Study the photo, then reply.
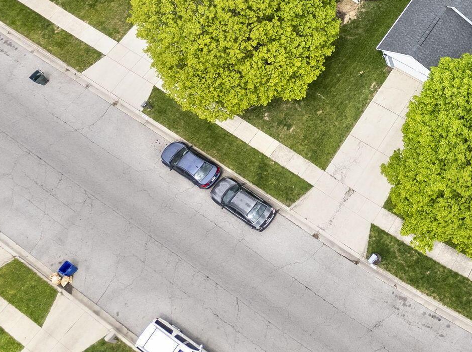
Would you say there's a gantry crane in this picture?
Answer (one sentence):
No, there is no gantry crane in the image.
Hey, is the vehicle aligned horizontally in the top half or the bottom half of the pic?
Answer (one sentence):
You can find the vehicle aligned horizontally in the bottom half.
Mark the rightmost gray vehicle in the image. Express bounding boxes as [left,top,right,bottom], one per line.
[210,172,282,238]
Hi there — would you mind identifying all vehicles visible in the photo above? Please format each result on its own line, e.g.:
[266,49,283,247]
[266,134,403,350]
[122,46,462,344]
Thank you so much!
[135,319,207,352]
[159,137,225,196]
[210,172,282,238]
